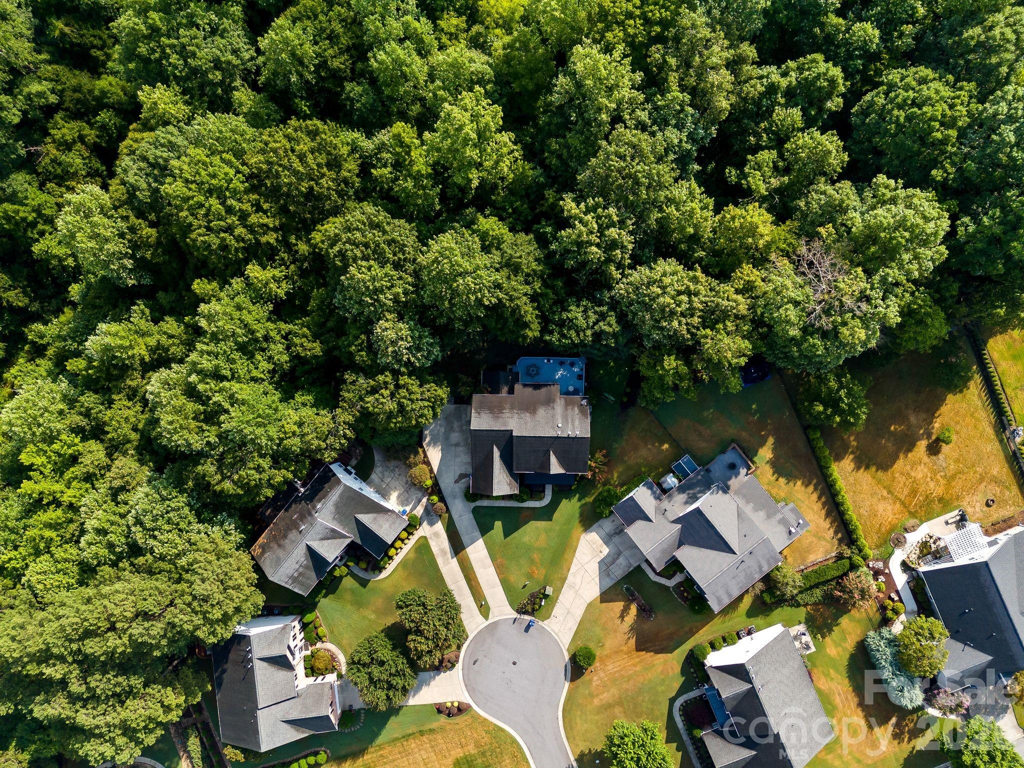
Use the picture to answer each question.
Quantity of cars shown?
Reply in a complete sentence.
The picture shows no cars.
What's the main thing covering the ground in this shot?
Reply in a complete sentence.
For the most part, this view shows trees.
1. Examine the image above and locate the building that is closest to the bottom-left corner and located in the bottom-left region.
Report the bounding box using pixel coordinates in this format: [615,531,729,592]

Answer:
[211,614,342,752]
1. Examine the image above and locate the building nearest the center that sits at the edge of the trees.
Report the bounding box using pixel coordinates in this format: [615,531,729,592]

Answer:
[470,354,591,496]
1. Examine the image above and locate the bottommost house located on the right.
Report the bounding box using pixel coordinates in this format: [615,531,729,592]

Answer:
[701,624,835,768]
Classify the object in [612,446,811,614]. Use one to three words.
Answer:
house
